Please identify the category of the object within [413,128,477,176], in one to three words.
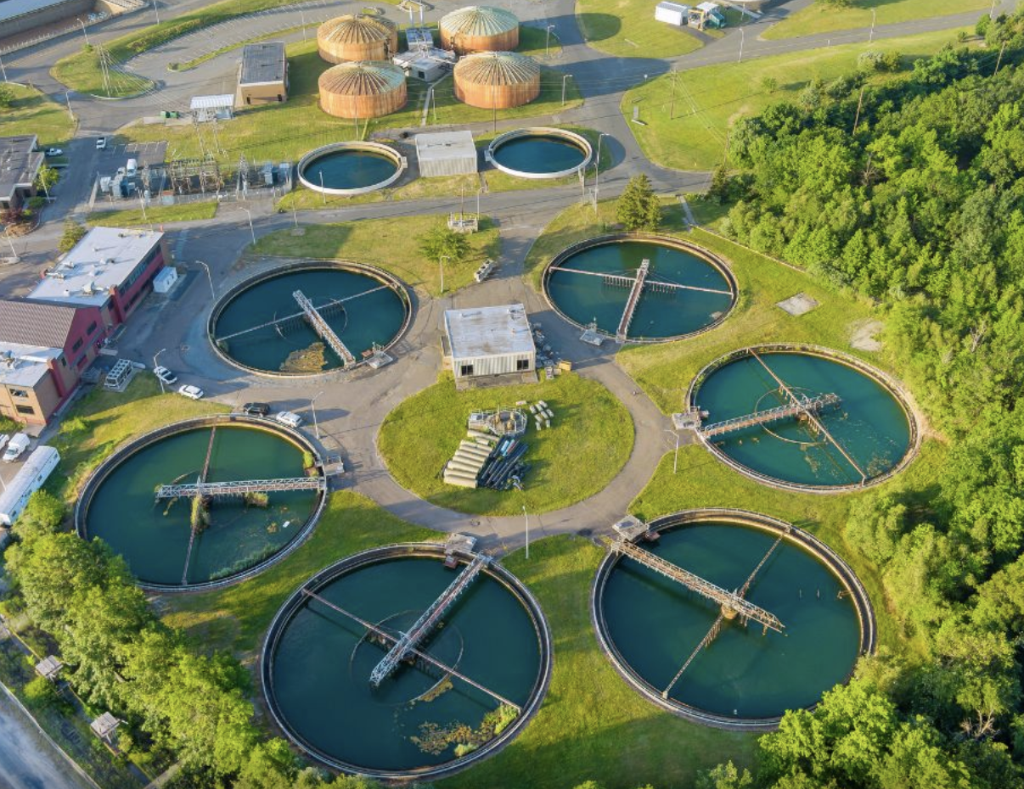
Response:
building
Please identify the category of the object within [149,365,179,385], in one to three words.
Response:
vehicle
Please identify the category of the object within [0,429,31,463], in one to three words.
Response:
van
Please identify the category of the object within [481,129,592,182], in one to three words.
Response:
water tank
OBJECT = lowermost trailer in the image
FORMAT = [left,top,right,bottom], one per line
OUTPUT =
[0,447,60,543]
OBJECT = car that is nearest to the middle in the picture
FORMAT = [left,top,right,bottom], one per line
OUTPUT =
[273,409,304,428]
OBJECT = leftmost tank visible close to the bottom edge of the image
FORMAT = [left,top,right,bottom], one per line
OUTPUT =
[261,539,554,786]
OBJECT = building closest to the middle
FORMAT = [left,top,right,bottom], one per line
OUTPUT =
[436,302,539,393]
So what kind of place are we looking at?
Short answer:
industrial area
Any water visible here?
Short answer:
Yes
